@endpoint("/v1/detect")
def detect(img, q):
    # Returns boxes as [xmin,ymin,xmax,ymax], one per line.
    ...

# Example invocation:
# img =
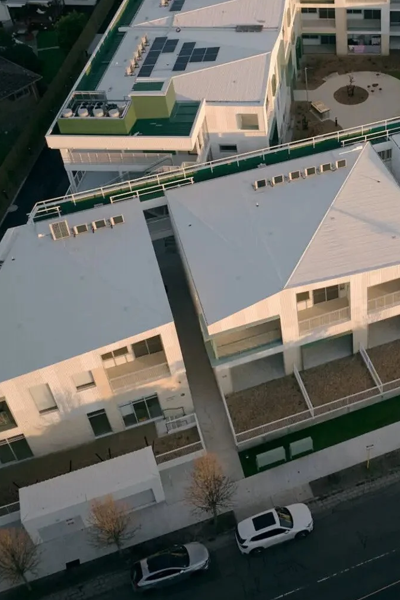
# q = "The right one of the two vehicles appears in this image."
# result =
[236,506,314,561]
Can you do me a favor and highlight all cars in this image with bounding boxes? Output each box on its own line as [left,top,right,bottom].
[236,506,314,561]
[129,544,211,600]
